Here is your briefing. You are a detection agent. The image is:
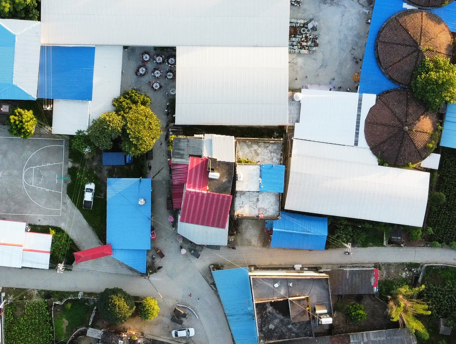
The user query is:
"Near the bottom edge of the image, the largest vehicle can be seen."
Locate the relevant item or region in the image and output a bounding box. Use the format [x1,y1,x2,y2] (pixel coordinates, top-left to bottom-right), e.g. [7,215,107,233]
[172,327,195,340]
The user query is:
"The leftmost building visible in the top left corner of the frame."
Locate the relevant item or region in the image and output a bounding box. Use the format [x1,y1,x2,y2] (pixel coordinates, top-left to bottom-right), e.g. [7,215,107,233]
[0,19,40,100]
